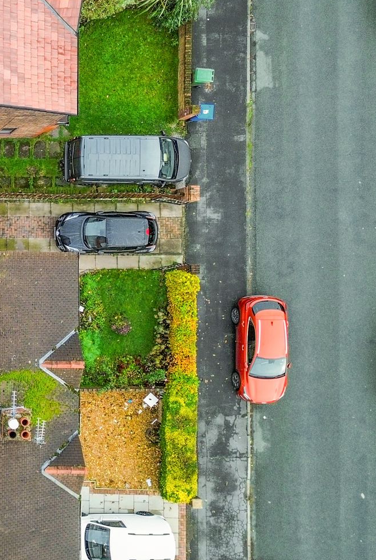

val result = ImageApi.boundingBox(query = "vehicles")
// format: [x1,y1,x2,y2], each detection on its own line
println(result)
[229,295,295,403]
[51,204,162,258]
[82,507,173,560]
[61,129,192,192]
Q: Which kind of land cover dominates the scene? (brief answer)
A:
paved ground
